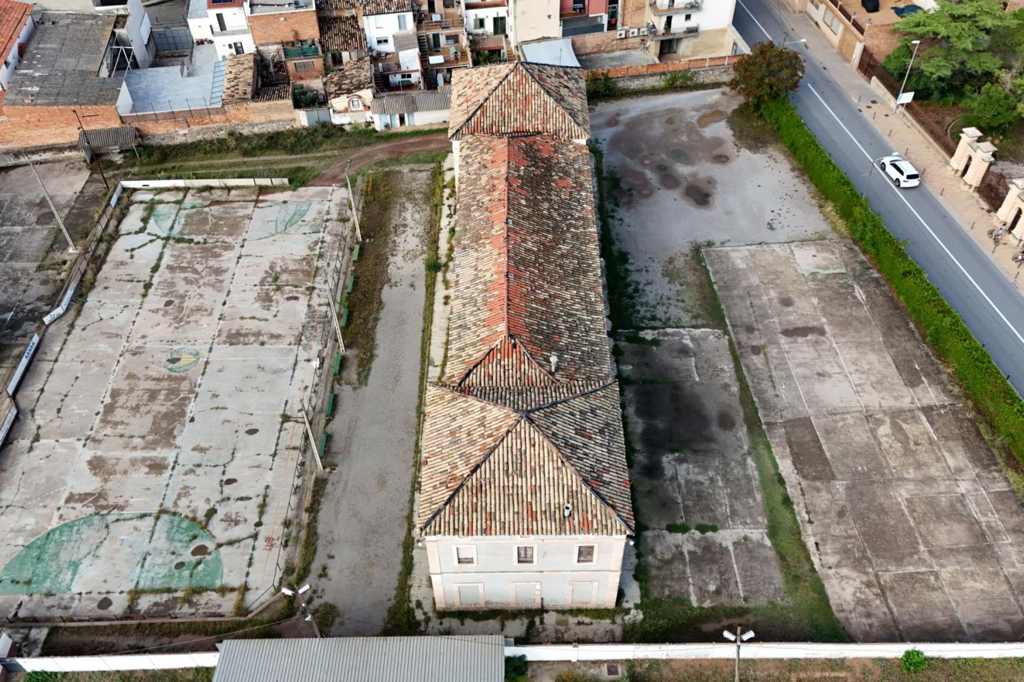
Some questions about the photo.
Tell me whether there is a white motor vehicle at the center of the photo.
No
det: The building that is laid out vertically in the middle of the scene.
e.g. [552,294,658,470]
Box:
[415,62,637,611]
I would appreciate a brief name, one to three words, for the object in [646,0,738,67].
house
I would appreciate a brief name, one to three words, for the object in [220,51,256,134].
shed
